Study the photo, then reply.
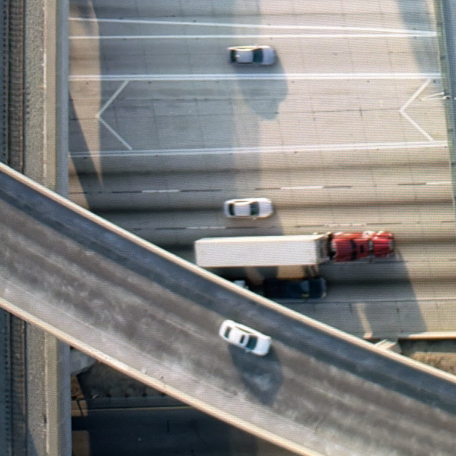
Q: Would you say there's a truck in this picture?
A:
Yes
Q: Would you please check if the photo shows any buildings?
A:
No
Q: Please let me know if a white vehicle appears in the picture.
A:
Yes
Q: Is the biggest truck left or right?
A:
right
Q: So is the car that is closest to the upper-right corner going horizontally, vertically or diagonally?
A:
horizontally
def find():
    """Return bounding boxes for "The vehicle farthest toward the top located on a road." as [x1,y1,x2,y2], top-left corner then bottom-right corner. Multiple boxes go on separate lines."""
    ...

[226,45,278,67]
